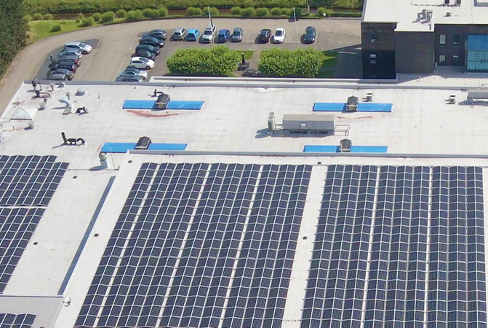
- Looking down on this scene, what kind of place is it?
industrial area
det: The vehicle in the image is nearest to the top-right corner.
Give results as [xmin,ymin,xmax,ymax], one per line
[303,27,317,43]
